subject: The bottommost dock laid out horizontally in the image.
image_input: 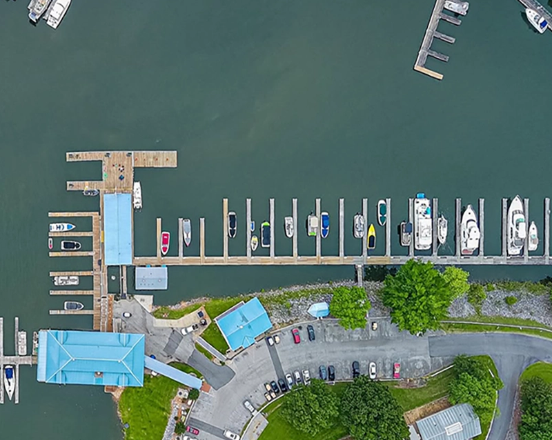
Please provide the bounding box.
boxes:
[134,197,552,265]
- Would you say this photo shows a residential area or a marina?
marina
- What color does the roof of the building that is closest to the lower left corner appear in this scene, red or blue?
blue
